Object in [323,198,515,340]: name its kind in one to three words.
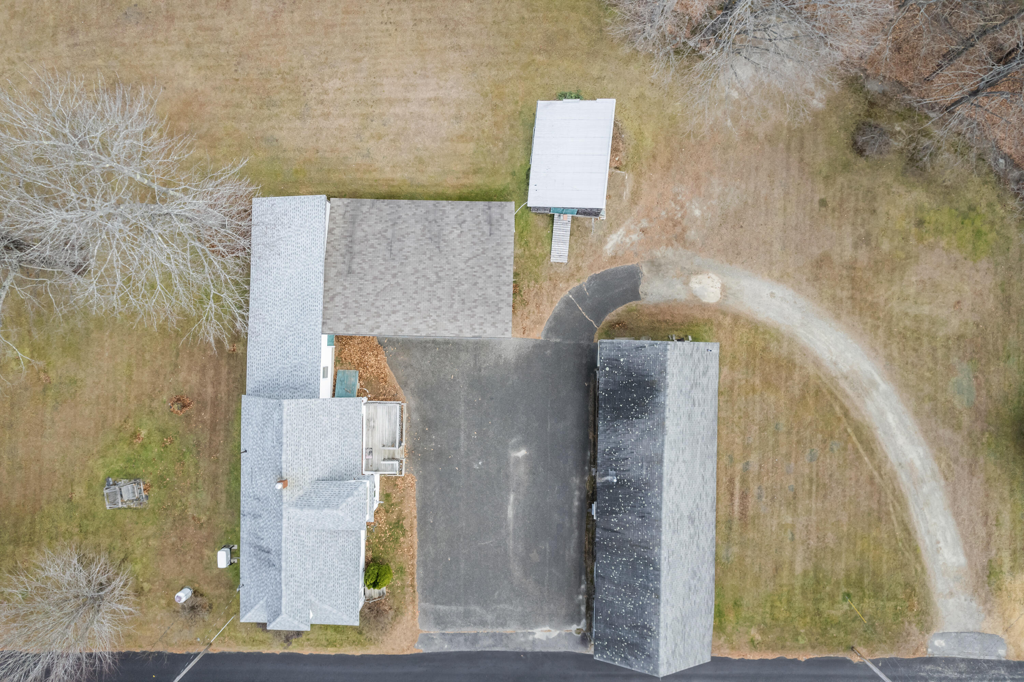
building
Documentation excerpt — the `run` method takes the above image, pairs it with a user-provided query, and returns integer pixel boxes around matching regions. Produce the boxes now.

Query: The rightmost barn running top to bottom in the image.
[590,340,719,678]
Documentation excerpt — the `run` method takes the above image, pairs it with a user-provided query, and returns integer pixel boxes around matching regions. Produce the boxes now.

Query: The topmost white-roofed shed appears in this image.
[528,98,615,219]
